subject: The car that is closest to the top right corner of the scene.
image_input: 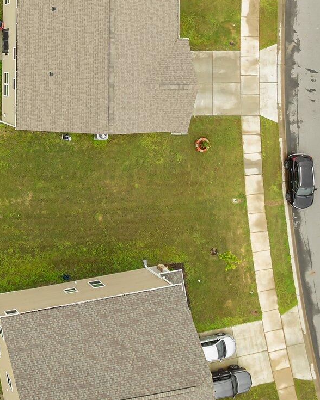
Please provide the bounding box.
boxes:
[286,154,320,209]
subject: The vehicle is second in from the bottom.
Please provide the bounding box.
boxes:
[204,334,237,364]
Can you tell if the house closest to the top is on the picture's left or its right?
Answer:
left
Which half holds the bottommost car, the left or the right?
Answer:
right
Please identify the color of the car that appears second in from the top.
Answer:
white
